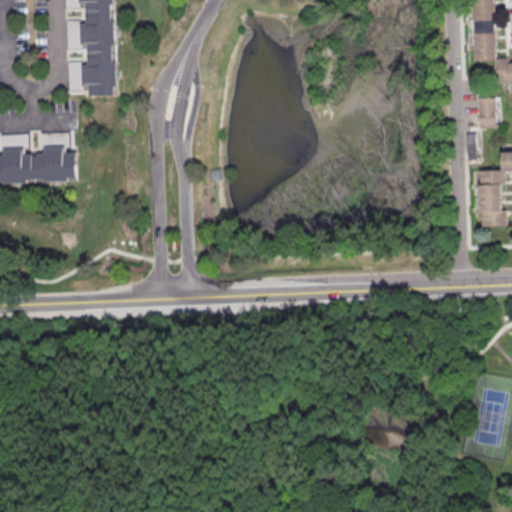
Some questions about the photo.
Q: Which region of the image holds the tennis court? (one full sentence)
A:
You can find the tennis court in the bottom right area of the picture.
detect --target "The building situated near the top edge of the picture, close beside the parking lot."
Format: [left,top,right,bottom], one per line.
[65,0,120,98]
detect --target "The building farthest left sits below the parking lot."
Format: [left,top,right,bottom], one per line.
[0,130,78,187]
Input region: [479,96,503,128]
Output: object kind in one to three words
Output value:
house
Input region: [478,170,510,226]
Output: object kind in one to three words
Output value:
house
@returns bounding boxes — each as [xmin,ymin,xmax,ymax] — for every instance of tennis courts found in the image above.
[466,376,512,462]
